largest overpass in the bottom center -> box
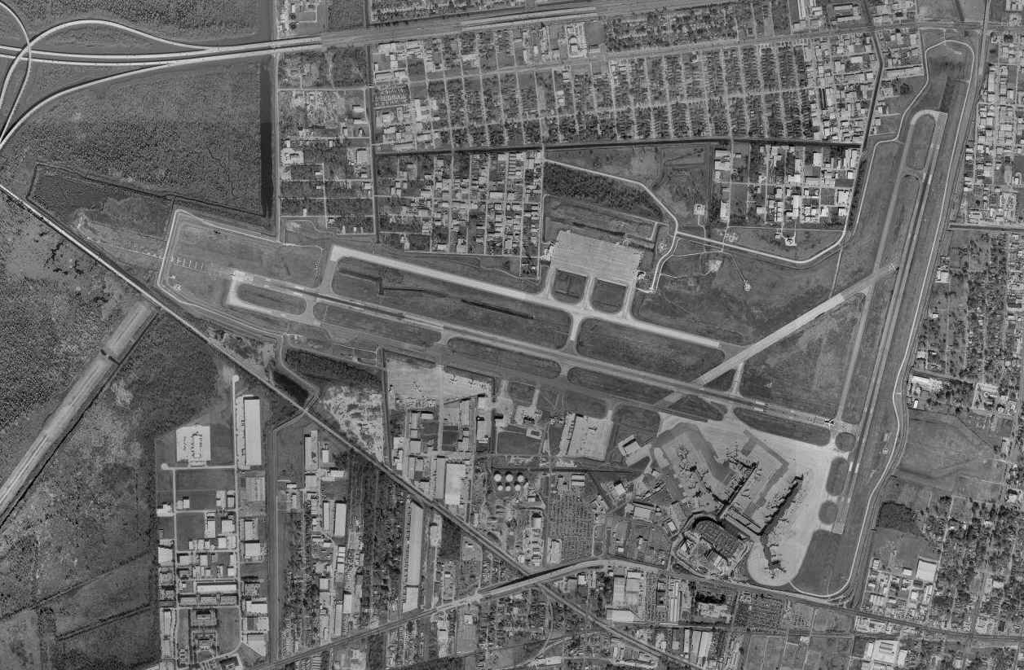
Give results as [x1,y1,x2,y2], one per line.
[478,563,575,599]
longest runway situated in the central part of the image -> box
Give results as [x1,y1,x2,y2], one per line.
[231,269,859,433]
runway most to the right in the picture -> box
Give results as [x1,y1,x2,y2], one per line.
[832,111,948,534]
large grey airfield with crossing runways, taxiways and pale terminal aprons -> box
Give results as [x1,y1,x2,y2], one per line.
[110,42,966,596]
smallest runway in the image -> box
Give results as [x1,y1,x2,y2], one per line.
[650,262,898,413]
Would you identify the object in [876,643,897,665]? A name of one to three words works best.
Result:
building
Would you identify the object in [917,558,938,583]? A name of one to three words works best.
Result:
building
